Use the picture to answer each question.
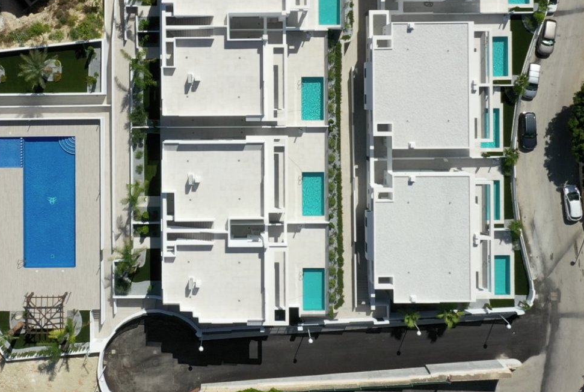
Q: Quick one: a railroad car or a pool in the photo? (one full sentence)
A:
I can see a pool in this picture.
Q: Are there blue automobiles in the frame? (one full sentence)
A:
No, I can't see a single blue automobile in this photo.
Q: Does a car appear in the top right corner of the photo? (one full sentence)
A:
Yes, there is a car in the top right corner of the photo.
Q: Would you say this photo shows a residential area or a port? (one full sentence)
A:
This looks like a residential area.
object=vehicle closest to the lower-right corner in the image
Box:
[561,184,583,223]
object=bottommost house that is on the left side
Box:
[163,231,291,333]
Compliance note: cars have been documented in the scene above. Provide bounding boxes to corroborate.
[534,19,557,59]
[561,184,583,223]
[521,63,541,100]
[517,113,537,151]
[545,0,561,15]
